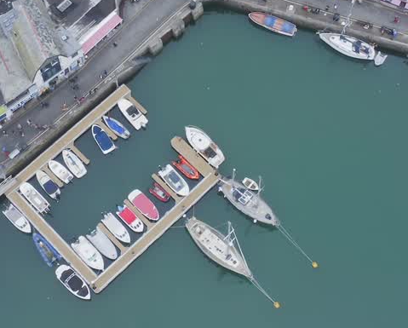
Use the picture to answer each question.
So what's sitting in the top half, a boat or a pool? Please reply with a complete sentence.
You can see a boat in the top half.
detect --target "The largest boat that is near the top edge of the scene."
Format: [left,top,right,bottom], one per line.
[319,4,377,60]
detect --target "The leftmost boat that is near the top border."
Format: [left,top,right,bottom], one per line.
[248,13,297,35]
